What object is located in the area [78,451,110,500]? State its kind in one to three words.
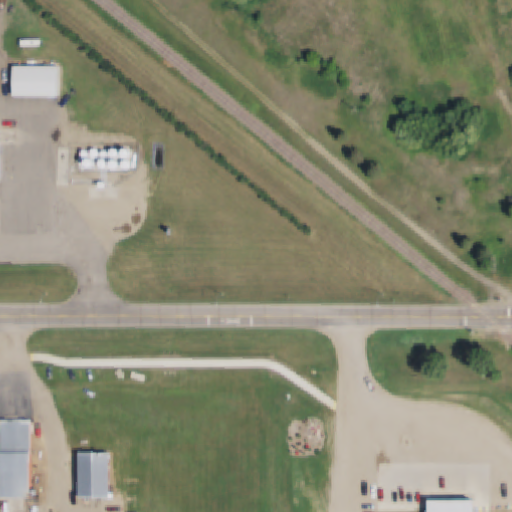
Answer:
shed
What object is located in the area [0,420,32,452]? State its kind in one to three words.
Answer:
building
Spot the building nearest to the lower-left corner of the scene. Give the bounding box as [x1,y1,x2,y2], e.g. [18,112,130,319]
[0,450,31,498]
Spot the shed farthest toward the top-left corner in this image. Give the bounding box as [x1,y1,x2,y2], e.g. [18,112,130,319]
[10,65,62,98]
